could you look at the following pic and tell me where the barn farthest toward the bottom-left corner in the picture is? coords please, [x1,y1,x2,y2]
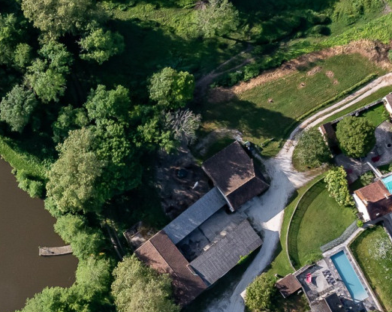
[134,230,208,306]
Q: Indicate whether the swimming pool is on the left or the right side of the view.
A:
right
